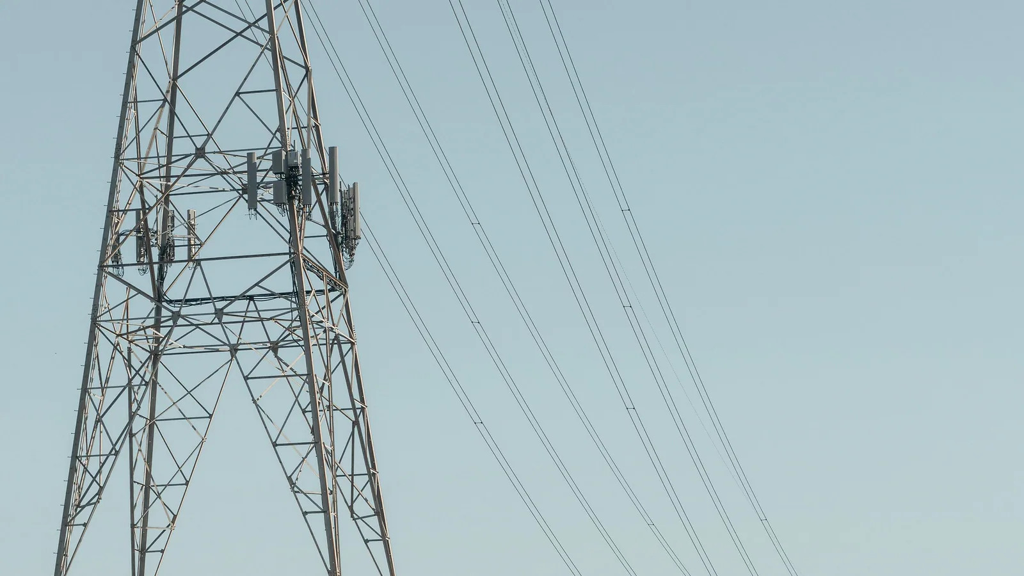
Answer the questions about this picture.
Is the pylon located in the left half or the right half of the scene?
left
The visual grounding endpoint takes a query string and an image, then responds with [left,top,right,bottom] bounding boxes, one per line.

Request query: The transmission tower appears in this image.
[51,0,396,576]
